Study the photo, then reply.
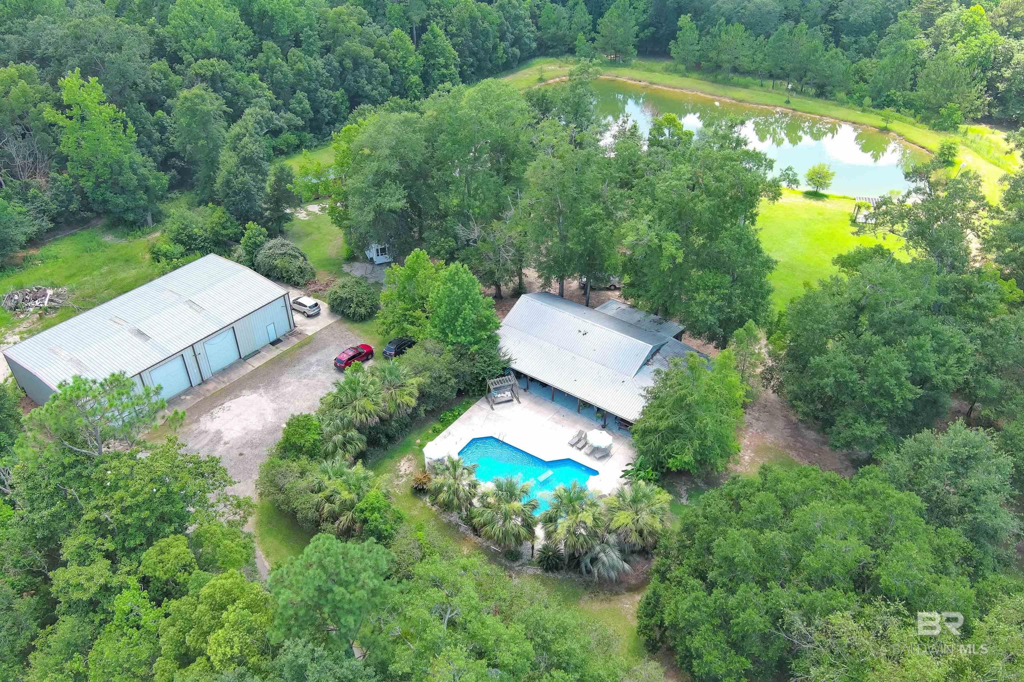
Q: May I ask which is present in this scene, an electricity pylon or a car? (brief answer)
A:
car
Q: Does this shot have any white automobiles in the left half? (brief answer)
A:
Yes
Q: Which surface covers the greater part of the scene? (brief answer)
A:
trees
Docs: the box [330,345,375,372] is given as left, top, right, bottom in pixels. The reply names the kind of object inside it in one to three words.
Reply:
car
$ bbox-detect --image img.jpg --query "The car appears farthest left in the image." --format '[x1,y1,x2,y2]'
[291,296,321,318]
